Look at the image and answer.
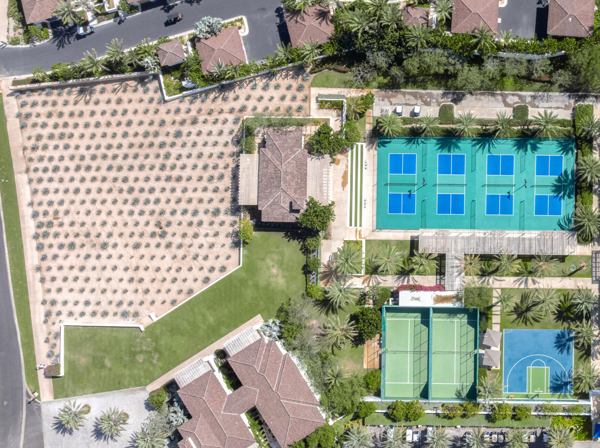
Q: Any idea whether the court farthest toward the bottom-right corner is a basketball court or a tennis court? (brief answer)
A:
basketball court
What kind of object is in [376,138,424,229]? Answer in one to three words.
sports court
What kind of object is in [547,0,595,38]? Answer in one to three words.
building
